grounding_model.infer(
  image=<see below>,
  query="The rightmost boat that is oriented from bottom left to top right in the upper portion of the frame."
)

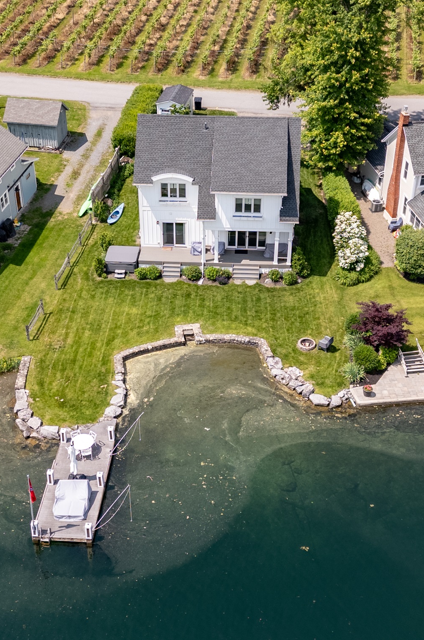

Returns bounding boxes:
[107,201,123,219]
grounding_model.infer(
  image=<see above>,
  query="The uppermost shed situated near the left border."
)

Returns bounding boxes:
[0,97,74,151]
